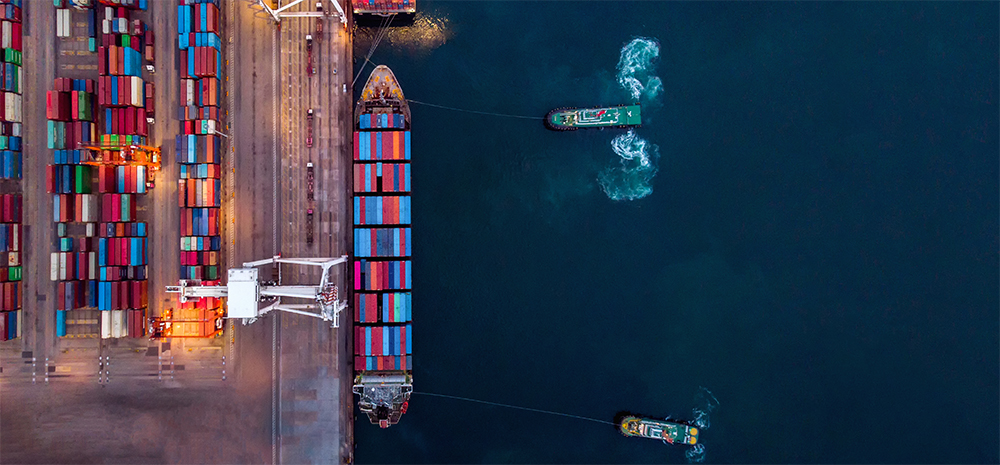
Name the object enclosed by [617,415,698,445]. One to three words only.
boat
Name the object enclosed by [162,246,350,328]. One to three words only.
container crane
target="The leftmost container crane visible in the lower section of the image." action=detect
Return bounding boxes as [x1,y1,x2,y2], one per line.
[148,308,228,340]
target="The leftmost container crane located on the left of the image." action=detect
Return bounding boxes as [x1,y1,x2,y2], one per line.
[76,143,160,173]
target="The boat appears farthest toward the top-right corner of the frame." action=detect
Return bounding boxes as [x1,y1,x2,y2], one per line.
[544,103,641,131]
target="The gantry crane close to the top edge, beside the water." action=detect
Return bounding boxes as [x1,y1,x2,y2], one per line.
[261,0,350,33]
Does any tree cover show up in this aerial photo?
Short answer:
No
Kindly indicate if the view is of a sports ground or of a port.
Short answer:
port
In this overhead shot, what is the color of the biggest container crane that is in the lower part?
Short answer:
white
